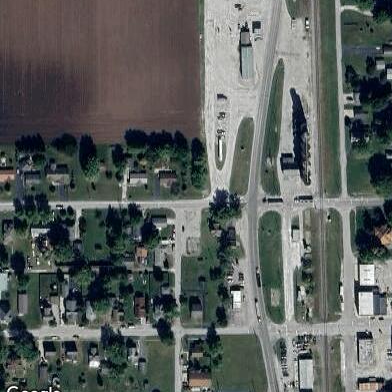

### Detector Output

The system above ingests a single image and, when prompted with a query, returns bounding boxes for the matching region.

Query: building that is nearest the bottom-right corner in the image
[361,377,383,392]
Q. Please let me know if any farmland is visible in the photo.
Yes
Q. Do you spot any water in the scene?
No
